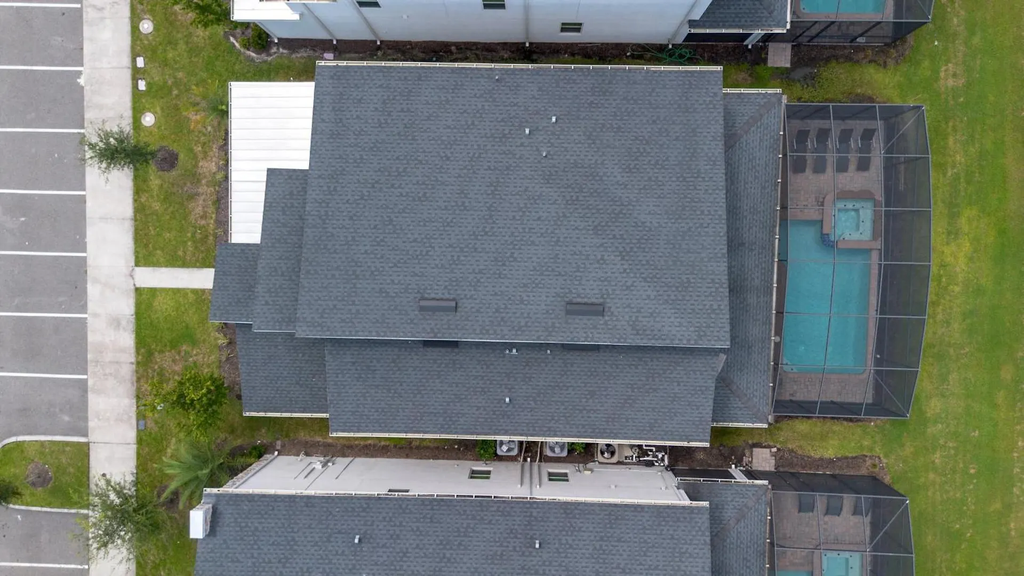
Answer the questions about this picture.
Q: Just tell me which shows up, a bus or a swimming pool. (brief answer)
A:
swimming pool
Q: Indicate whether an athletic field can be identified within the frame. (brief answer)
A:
No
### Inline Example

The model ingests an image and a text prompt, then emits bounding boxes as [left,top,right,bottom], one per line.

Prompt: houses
[227,0,791,52]
[209,59,788,449]
[188,449,775,576]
